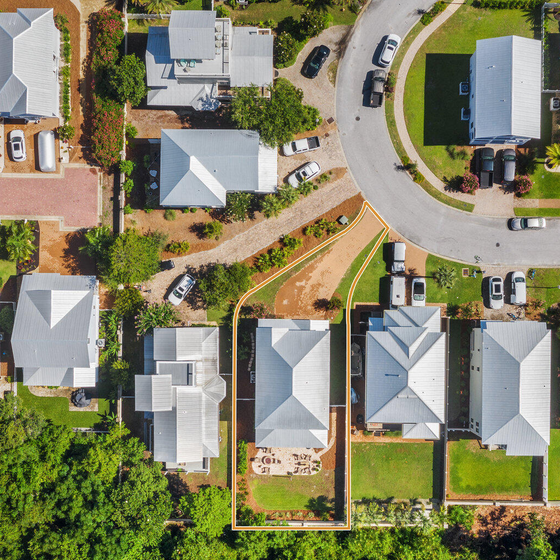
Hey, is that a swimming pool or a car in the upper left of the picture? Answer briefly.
car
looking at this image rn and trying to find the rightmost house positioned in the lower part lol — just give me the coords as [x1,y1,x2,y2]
[466,320,551,456]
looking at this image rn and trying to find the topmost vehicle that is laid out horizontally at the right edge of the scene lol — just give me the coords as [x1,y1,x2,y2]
[508,215,545,232]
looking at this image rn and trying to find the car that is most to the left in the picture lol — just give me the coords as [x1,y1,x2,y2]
[9,130,26,163]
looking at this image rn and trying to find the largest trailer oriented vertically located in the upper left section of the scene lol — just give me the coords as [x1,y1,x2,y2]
[37,126,58,174]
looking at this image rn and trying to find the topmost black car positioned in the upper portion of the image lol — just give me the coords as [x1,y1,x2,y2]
[303,42,328,80]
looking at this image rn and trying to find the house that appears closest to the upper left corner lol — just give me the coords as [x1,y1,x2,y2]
[0,8,60,127]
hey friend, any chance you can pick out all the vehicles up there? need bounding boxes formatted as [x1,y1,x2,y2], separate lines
[500,149,518,183]
[9,130,26,163]
[282,133,323,158]
[168,272,196,306]
[508,215,545,232]
[287,159,324,187]
[478,149,497,188]
[489,277,506,310]
[380,32,400,69]
[511,271,529,305]
[368,68,387,109]
[392,241,408,273]
[303,42,328,80]
[389,276,407,310]
[411,277,428,307]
